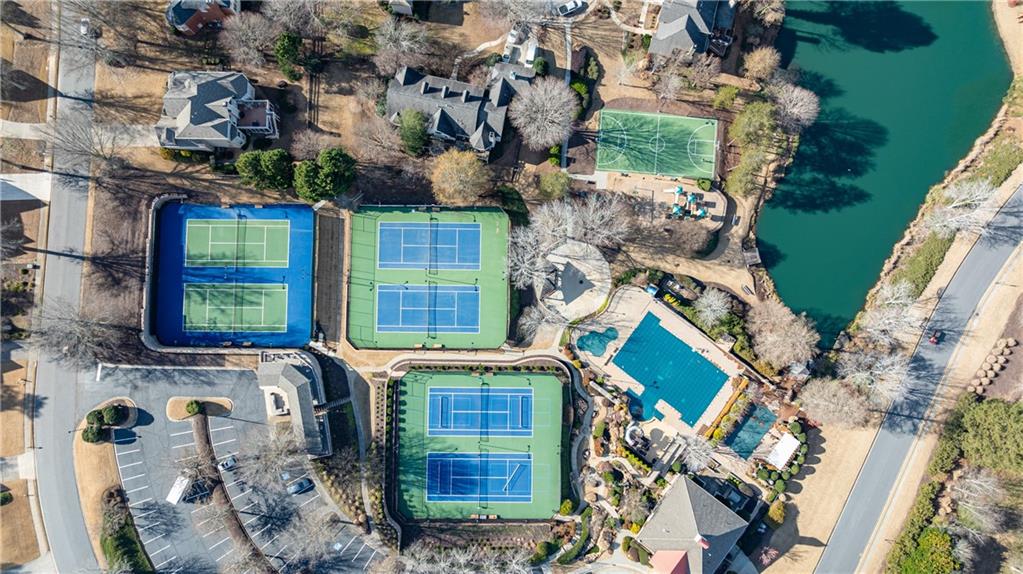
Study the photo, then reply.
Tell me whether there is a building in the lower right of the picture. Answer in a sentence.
Yes, looking in the lower right of the picture, one can make out a building.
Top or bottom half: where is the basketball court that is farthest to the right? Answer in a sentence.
The basketball court that is farthest to the right sits in the top half of the picture.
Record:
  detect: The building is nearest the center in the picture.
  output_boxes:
[529,263,573,304]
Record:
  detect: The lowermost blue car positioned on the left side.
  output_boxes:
[289,480,311,493]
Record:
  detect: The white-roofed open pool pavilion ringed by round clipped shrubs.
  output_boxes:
[761,430,800,470]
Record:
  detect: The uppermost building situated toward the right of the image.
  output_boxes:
[643,0,739,61]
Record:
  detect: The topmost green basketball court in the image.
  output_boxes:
[597,110,717,179]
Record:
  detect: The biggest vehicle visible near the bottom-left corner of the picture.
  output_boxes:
[161,476,187,508]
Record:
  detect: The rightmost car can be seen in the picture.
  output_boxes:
[929,329,943,345]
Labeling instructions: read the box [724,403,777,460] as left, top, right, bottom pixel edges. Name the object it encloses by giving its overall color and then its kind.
blue swimming pool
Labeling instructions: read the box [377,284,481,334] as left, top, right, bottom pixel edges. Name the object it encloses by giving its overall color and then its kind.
blue tennis court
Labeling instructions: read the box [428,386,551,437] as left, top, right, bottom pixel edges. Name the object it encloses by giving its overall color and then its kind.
blue tennis court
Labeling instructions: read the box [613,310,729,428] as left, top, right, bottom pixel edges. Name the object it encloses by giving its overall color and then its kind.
blue swimming pool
